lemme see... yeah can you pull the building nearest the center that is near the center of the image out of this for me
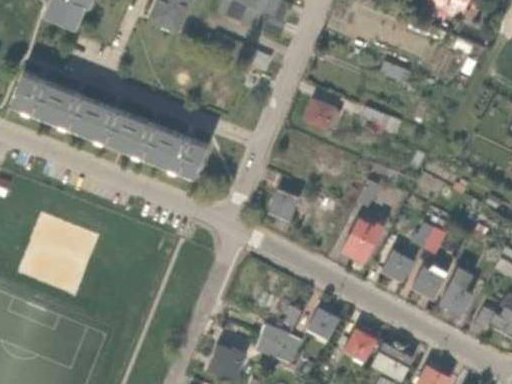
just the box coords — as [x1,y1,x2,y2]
[268,189,298,223]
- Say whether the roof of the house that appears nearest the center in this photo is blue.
No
